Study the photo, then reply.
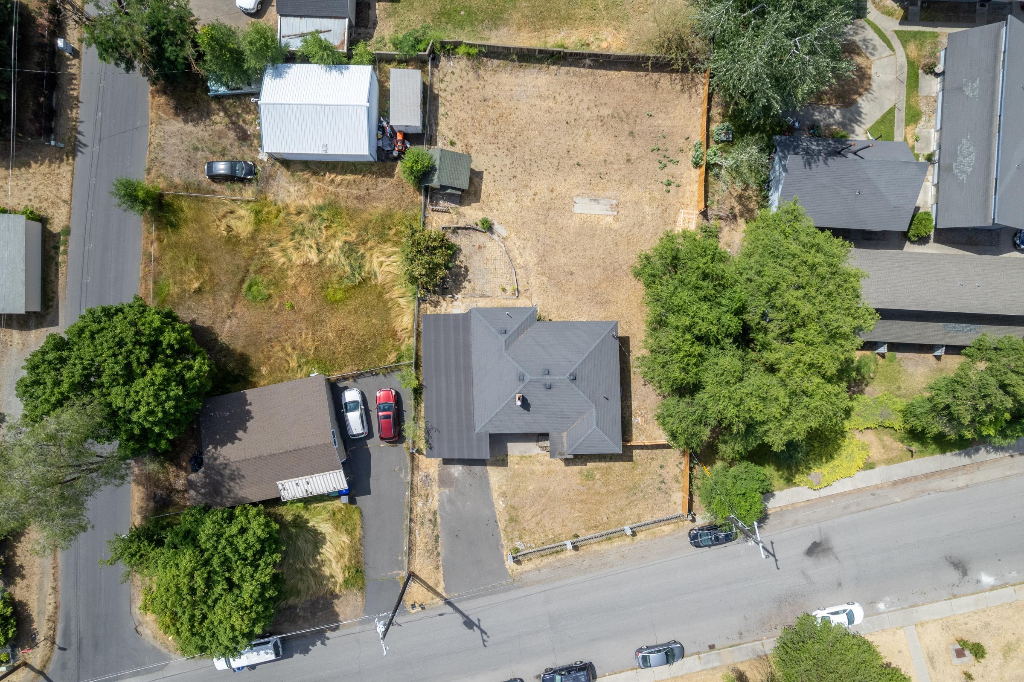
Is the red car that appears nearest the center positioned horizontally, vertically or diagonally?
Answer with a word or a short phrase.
vertically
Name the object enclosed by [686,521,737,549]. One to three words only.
car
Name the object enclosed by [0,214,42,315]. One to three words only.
barn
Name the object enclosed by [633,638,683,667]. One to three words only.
car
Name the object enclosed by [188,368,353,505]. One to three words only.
house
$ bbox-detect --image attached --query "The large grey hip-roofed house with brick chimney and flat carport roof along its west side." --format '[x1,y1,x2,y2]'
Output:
[422,306,623,459]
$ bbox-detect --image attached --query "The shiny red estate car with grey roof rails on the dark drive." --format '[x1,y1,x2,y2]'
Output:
[374,388,400,441]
